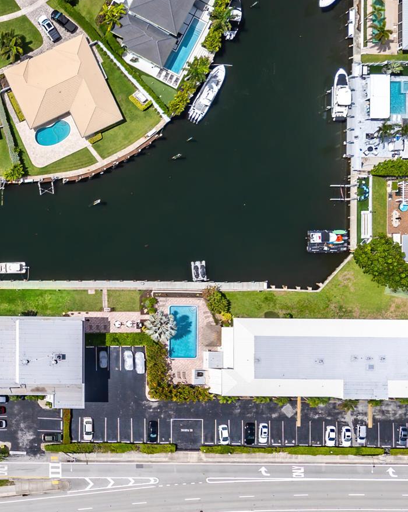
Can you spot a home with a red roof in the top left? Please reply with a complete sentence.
No, there is no home with a red roof in the top left.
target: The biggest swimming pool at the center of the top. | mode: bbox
[163,16,209,76]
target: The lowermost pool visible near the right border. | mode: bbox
[391,79,408,115]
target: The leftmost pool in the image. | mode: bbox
[34,119,71,147]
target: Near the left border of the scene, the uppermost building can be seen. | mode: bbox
[3,34,124,138]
